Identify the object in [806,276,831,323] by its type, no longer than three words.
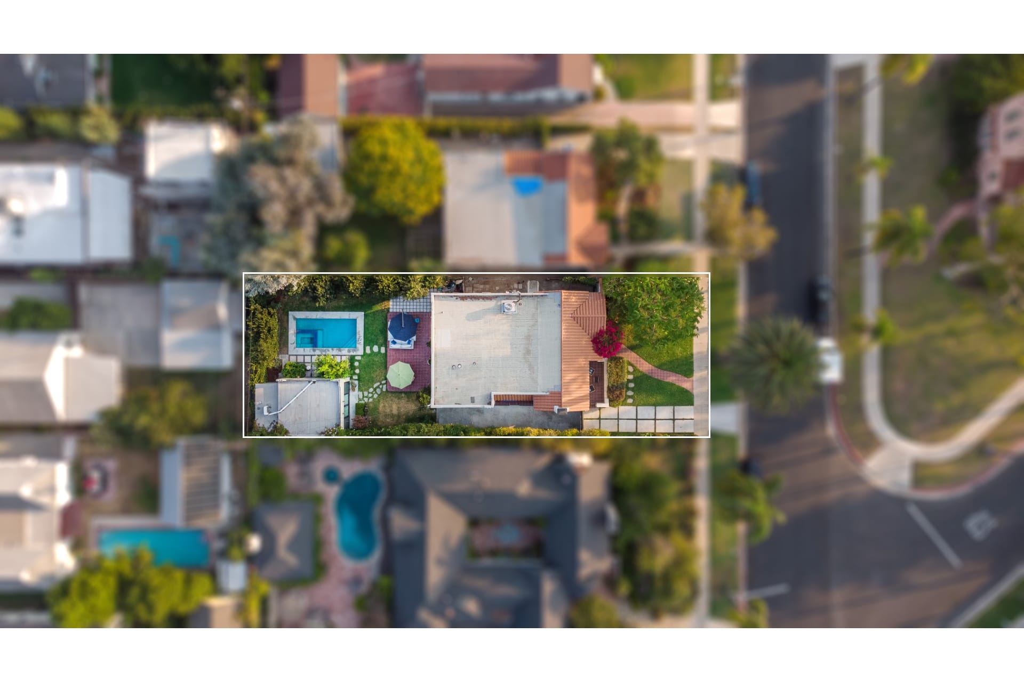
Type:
car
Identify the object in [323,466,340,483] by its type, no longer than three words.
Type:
swimming pool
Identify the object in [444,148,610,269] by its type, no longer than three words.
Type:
house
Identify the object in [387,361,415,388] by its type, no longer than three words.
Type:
umbrella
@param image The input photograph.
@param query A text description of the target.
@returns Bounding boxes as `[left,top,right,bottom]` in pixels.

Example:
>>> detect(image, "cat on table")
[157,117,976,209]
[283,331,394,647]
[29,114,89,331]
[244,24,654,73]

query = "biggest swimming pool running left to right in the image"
[91,518,214,573]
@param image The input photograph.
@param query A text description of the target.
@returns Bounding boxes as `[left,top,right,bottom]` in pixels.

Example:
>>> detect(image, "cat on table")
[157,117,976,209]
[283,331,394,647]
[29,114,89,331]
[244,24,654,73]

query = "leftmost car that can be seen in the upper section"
[740,161,763,208]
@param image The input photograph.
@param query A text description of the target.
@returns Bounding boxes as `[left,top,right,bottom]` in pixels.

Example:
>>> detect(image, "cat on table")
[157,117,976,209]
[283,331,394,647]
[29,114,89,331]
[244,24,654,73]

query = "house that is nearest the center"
[431,291,608,415]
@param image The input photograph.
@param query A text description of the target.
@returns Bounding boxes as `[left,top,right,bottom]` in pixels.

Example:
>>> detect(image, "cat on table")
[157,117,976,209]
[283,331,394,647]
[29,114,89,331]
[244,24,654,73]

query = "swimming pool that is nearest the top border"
[288,312,364,355]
